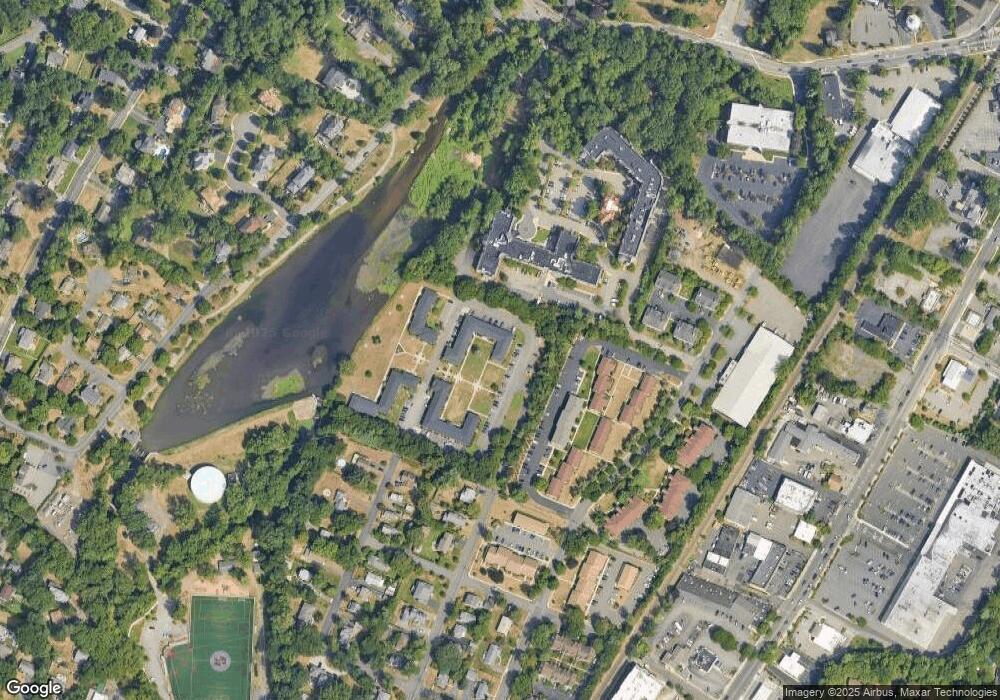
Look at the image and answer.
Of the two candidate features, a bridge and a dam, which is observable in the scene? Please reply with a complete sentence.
Looking from above, you can make out a dam.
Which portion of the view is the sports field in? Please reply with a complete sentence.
You can find the sports field in the bottom left area of the picture.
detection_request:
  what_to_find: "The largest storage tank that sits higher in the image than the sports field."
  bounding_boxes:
[187,463,229,506]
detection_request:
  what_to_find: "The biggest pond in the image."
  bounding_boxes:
[143,98,457,455]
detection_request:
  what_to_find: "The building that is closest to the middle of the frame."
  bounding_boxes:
[443,314,513,365]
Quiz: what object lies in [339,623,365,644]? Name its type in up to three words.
house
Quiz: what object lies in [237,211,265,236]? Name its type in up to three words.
house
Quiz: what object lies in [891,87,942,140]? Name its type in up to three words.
building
